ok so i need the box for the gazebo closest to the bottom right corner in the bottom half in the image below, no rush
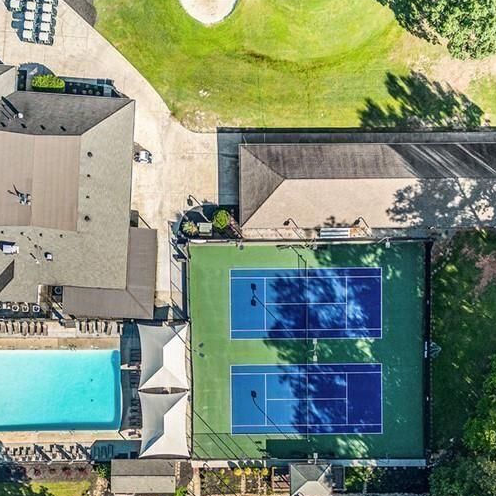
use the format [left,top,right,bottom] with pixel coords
[274,463,346,496]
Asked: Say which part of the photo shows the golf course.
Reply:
top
